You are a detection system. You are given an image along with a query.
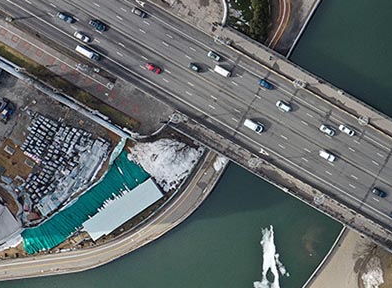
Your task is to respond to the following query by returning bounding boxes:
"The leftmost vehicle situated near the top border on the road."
[58,11,75,24]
